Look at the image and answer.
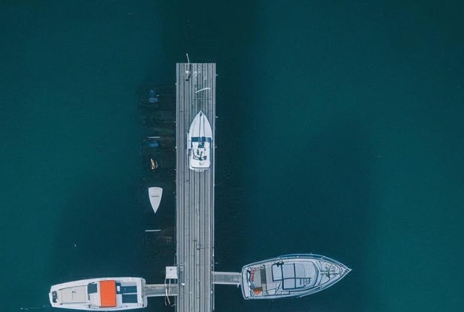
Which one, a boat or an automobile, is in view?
boat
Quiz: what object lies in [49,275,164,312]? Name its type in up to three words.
boat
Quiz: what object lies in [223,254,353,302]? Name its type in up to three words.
boat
